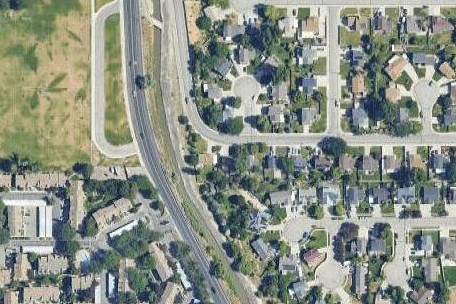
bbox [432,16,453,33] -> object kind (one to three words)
house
